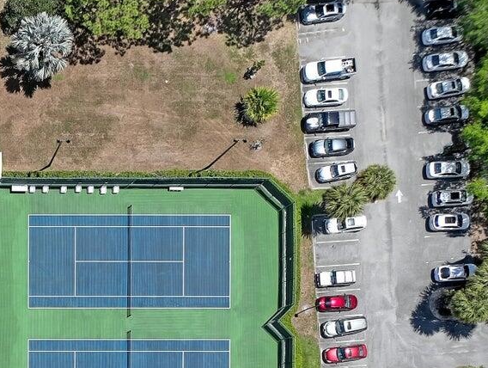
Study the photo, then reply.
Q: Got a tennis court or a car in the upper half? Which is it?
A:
car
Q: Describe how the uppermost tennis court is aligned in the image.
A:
from left to right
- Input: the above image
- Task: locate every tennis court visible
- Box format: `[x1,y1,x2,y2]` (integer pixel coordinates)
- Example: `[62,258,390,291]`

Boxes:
[27,214,231,308]
[27,338,231,368]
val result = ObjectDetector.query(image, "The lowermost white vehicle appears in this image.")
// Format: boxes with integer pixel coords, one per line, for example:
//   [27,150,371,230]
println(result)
[322,316,367,337]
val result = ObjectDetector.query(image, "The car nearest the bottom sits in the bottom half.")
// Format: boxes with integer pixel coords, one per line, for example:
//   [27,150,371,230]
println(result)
[322,344,367,363]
